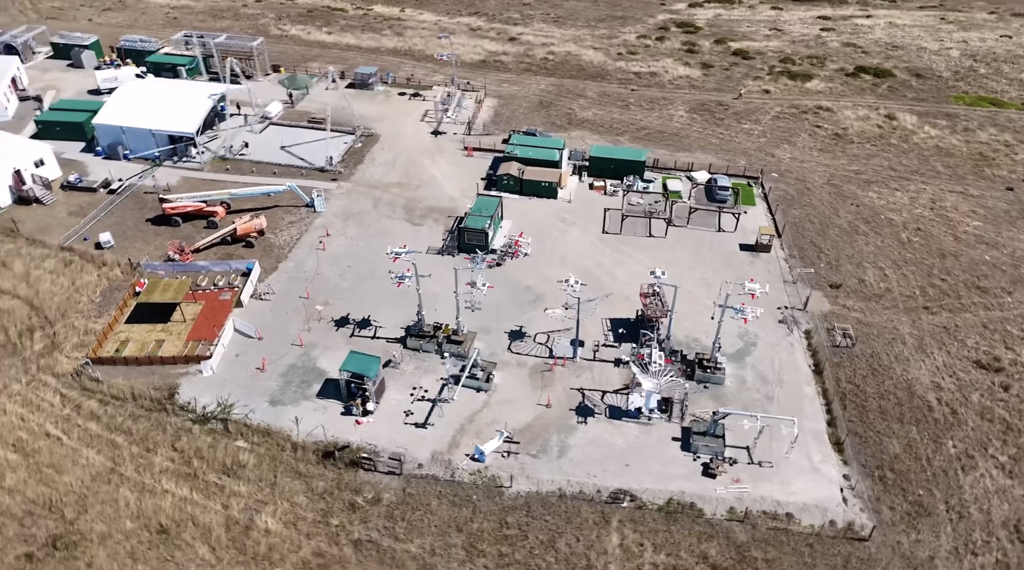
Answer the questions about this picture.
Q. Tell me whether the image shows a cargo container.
Yes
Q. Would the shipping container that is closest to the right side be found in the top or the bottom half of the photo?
top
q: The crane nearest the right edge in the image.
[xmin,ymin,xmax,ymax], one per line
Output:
[708,406,799,456]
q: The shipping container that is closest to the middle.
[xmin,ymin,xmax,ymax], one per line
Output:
[459,193,502,255]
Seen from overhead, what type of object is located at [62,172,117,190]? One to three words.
trailer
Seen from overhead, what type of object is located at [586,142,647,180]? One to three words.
shipping container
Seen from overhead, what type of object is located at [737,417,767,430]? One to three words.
airplane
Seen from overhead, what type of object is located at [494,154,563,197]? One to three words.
shed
